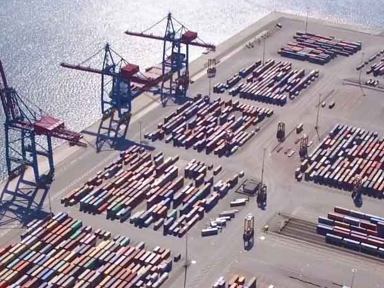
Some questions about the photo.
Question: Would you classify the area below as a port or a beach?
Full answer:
The area seen from above is a port.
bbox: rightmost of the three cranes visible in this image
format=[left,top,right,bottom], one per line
[115,13,226,87]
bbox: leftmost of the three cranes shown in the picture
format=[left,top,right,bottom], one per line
[0,80,86,188]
